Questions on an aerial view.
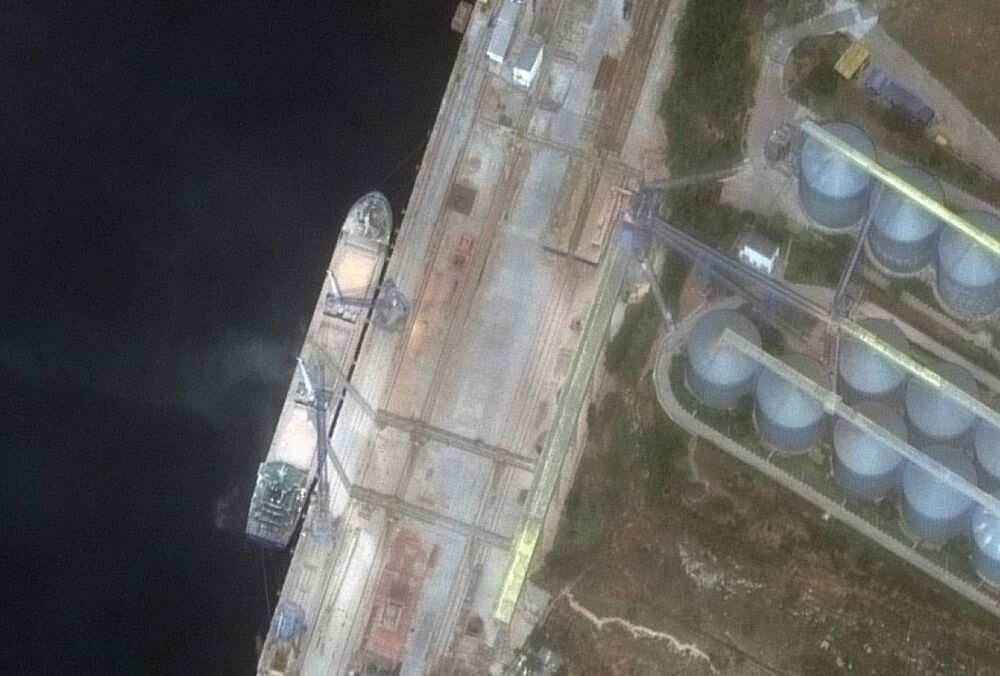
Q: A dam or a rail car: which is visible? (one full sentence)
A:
Looking from above, you can make out a rail car.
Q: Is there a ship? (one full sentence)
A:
Yes, the picture does show a ship.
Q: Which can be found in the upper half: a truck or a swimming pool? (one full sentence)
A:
There is a truck in the upper half.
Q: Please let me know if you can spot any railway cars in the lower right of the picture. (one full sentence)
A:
No, I can find no railway car in the lower right of the picture.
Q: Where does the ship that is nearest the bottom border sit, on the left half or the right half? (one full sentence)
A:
The ship that is nearest the bottom border sits on the left side.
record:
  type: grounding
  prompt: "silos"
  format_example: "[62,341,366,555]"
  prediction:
[900,363,981,454]
[683,311,763,410]
[831,319,912,410]
[752,355,833,454]
[865,169,947,275]
[966,489,1000,587]
[795,125,877,231]
[933,213,1000,318]
[896,445,979,544]
[828,402,910,501]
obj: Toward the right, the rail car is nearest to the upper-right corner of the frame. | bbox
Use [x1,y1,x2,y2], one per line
[595,51,622,91]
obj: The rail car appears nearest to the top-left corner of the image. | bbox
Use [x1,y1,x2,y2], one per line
[446,177,479,213]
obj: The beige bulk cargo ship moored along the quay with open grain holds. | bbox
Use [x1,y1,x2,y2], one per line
[246,189,389,553]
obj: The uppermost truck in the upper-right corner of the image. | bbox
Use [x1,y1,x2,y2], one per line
[864,69,938,120]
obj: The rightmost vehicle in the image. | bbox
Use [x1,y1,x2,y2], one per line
[934,131,951,146]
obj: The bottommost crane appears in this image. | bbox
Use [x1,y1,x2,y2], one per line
[266,607,312,661]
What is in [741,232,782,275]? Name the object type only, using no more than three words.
house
